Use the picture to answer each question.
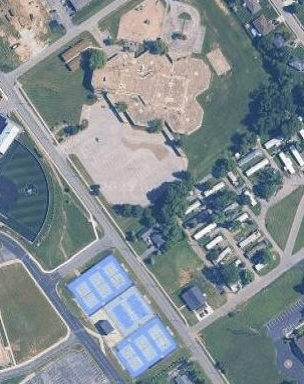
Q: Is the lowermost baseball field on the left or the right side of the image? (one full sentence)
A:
The lowermost baseball field is on the left side of the image.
